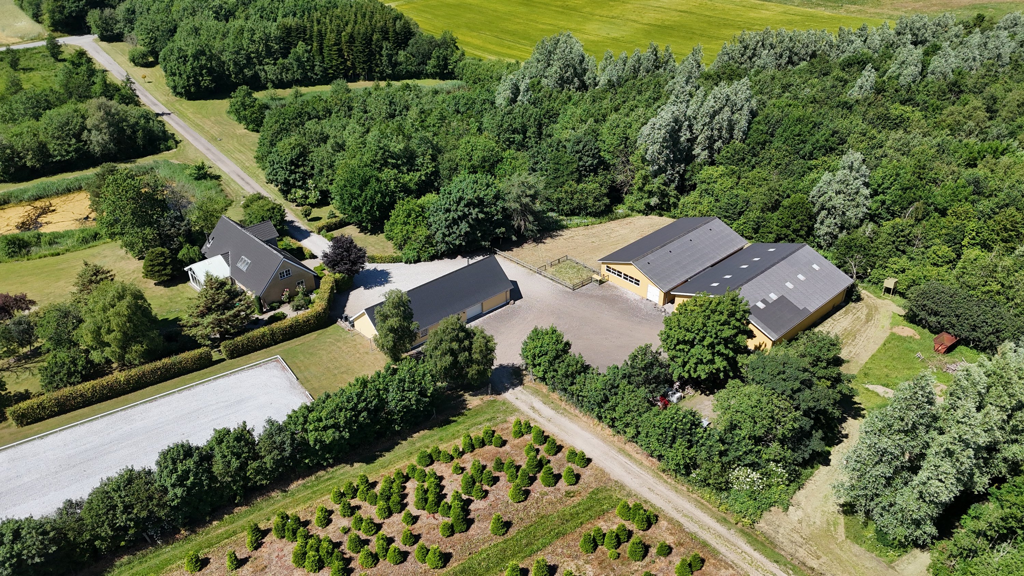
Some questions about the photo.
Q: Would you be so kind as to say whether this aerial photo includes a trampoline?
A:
No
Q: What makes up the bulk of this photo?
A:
trees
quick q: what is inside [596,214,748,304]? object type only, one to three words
barn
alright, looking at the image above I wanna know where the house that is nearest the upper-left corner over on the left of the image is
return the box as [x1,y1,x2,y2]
[184,218,318,314]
